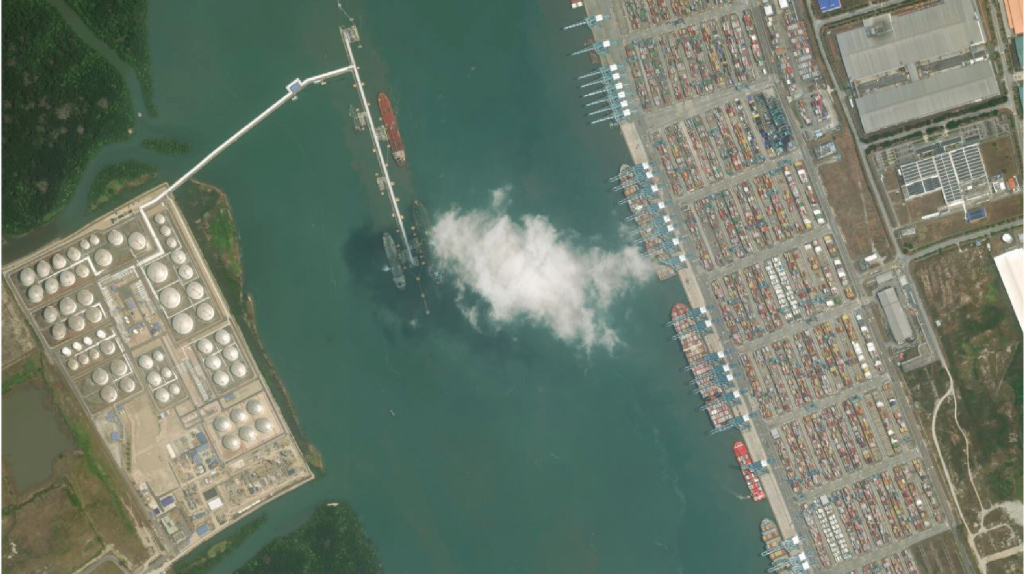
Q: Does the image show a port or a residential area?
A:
port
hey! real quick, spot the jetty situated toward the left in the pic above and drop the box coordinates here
[139,2,427,311]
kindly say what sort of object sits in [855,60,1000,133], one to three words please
building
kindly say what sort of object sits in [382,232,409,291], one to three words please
ship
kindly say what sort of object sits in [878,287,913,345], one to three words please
building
